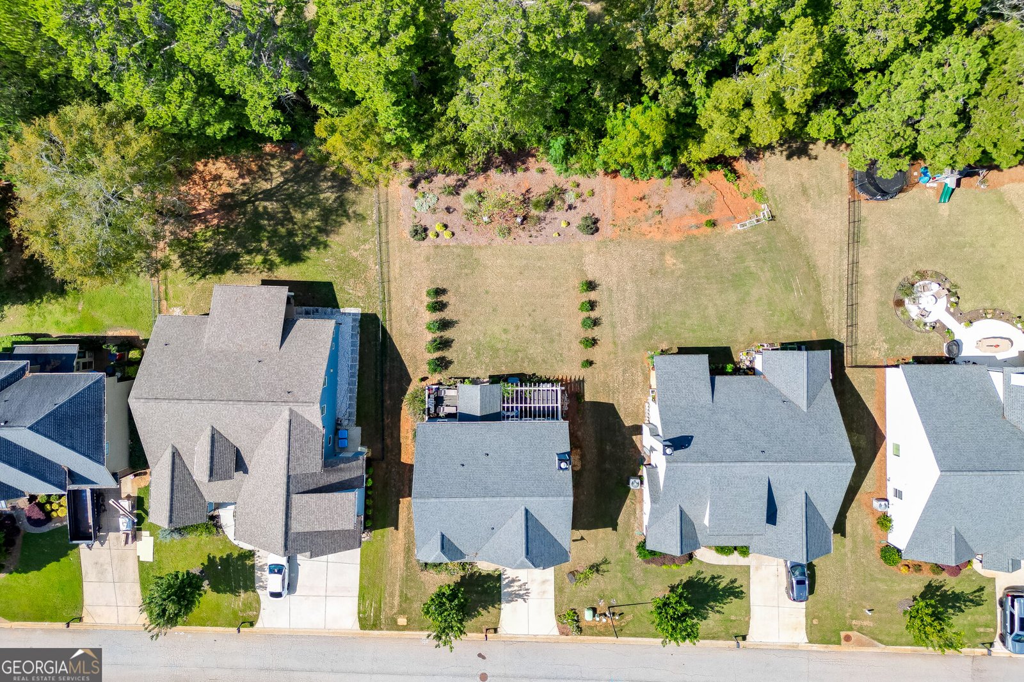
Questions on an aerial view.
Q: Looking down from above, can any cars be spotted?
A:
Yes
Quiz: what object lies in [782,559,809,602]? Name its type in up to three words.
car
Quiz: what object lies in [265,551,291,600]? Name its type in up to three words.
car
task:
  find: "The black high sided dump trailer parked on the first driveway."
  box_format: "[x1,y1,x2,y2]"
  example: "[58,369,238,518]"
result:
[68,488,109,553]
